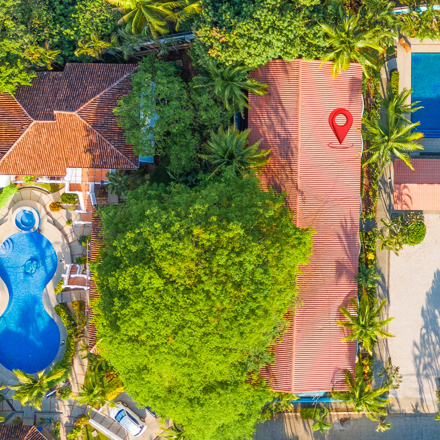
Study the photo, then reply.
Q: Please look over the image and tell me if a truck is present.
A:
No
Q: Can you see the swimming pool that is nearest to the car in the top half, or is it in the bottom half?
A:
bottom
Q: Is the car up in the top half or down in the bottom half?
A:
bottom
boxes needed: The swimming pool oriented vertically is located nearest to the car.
[0,232,60,373]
